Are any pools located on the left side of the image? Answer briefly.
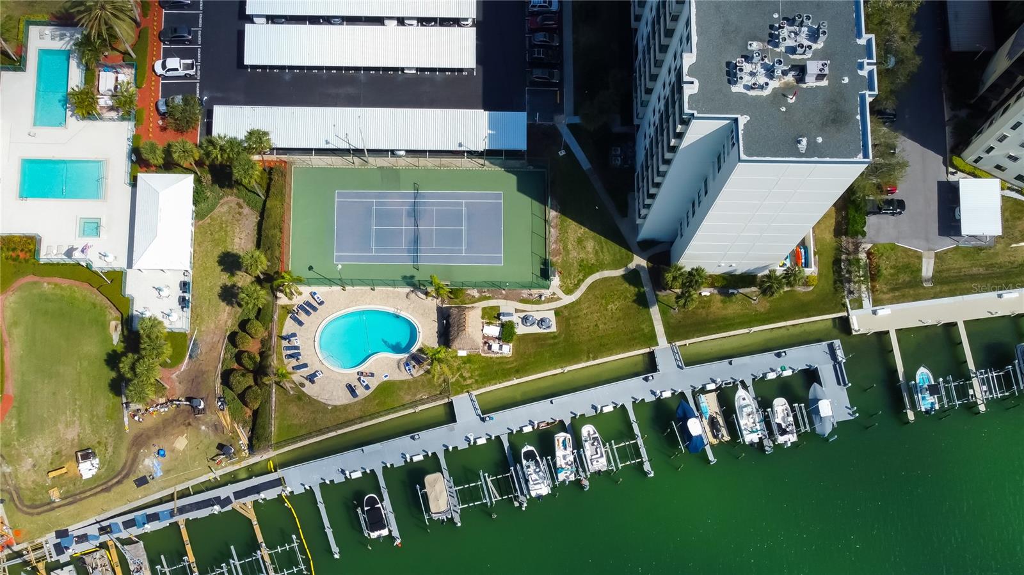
Yes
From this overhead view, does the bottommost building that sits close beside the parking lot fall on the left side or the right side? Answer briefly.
left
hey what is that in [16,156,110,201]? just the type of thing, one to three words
swimming pool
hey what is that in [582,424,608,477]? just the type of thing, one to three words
boat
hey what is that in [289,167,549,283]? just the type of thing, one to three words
tennis court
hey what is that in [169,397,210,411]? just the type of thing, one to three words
work vehicle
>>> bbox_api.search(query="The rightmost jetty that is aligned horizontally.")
[847,287,1024,335]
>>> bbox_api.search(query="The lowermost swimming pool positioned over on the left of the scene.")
[316,306,422,373]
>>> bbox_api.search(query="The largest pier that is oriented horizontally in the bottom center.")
[48,339,859,564]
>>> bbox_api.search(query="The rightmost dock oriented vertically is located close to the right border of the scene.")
[954,321,985,413]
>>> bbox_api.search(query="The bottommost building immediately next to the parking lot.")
[132,173,196,276]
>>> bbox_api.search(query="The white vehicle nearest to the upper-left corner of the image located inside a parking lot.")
[154,58,196,76]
